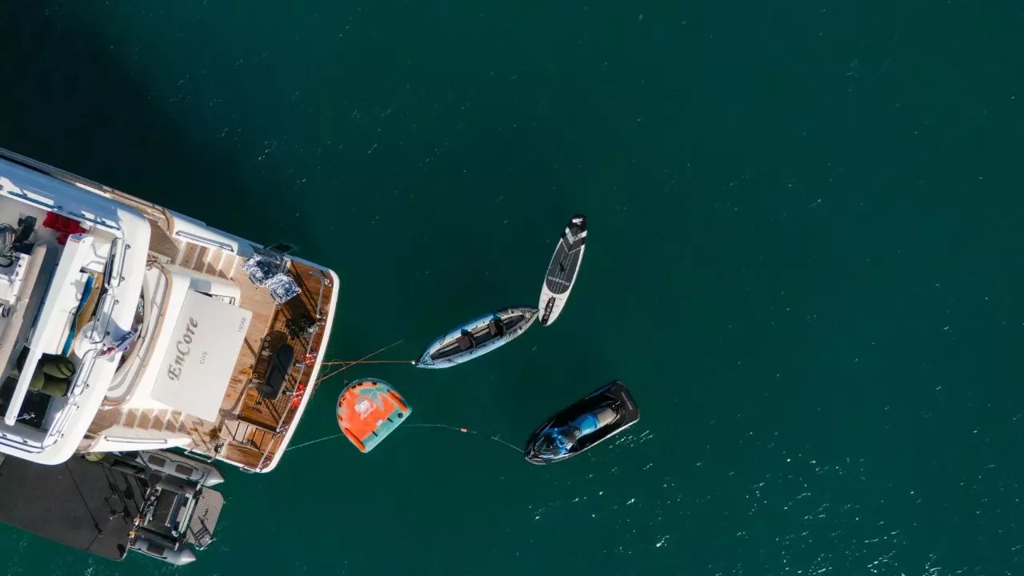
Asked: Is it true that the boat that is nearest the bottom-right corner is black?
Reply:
Yes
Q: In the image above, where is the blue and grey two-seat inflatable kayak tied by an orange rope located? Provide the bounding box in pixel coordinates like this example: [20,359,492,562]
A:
[412,309,538,368]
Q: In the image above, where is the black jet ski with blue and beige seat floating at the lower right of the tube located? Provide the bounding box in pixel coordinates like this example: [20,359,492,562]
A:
[529,385,638,467]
